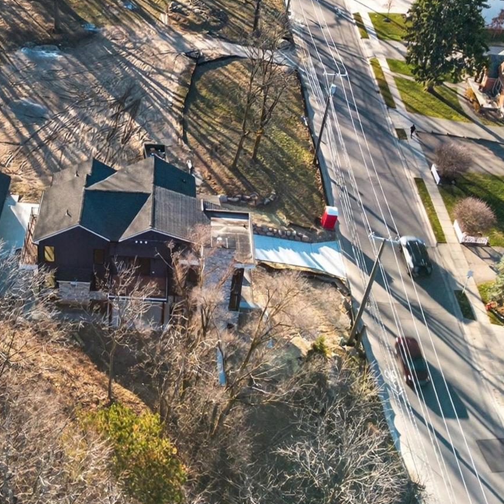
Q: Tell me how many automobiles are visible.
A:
two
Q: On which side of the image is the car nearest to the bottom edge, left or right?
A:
right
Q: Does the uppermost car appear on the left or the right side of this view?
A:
right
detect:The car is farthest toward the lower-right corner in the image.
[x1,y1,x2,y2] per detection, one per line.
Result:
[396,332,435,394]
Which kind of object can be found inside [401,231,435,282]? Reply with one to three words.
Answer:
car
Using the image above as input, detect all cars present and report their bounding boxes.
[401,231,435,282]
[396,332,435,394]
